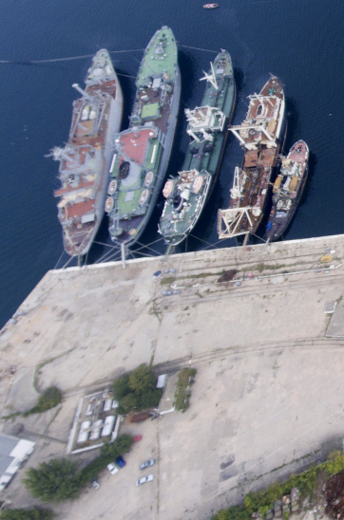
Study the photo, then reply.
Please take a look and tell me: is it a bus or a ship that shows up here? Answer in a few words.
ship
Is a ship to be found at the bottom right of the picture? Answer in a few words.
No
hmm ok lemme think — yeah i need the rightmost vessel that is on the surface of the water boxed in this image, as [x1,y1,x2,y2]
[265,138,311,242]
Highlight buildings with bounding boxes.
[0,430,48,492]
[157,374,171,389]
